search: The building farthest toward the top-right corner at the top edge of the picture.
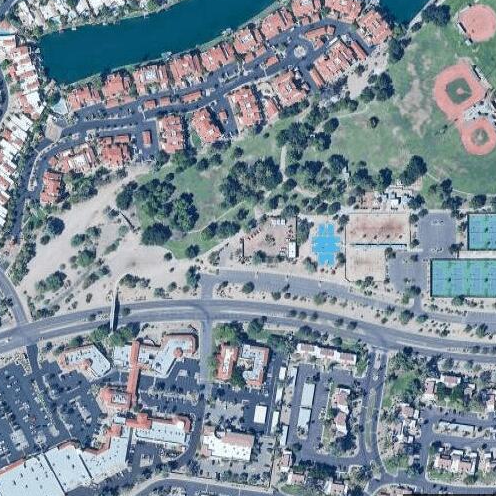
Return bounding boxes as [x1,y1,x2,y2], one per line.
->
[353,5,394,48]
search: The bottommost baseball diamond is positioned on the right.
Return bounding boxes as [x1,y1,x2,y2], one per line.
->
[461,117,496,154]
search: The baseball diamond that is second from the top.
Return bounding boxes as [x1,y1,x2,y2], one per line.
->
[434,63,488,122]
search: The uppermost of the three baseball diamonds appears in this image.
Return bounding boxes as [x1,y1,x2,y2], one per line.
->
[458,4,496,45]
